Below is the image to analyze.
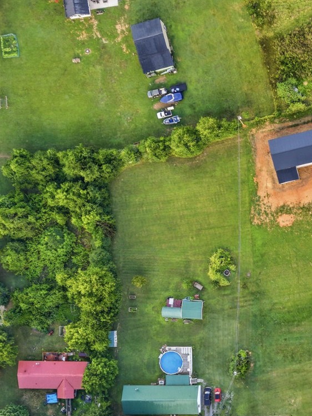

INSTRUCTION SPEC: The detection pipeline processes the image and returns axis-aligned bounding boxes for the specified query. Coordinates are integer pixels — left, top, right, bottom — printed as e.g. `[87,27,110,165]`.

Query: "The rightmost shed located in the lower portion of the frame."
[182,301,204,319]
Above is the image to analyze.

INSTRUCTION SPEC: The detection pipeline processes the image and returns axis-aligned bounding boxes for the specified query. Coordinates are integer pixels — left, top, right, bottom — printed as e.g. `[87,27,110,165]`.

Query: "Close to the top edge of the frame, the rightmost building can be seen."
[131,19,174,75]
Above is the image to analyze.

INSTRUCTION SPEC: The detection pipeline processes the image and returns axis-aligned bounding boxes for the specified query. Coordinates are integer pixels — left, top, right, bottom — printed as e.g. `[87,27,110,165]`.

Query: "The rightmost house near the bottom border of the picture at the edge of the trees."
[120,374,201,415]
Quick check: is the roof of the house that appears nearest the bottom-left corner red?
Yes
